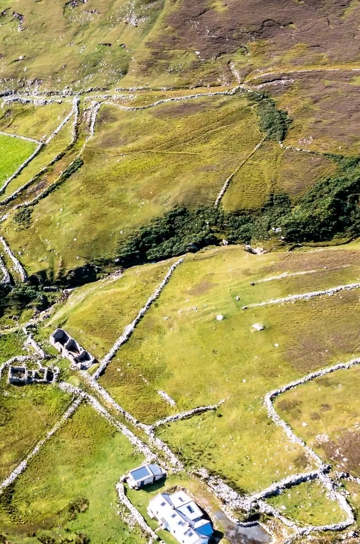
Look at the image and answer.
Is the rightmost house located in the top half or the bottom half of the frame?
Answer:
bottom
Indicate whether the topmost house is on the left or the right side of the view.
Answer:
left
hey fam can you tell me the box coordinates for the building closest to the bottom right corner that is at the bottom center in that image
[148,486,219,544]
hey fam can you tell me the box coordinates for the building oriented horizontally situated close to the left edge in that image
[8,364,57,383]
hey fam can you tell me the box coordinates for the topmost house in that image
[49,325,95,371]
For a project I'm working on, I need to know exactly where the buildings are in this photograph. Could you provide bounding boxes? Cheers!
[148,486,219,544]
[8,364,57,383]
[49,325,95,371]
[130,465,165,488]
